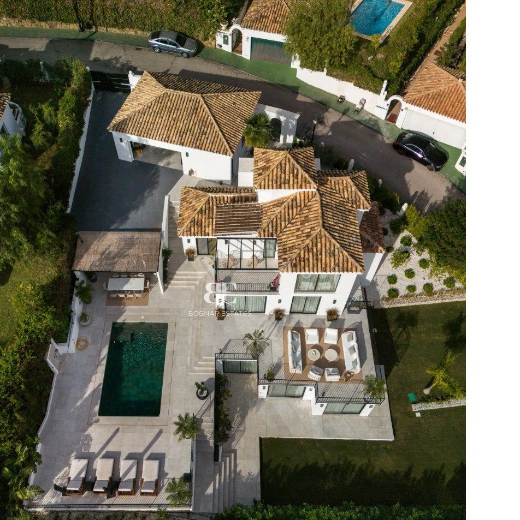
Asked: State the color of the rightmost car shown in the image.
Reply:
black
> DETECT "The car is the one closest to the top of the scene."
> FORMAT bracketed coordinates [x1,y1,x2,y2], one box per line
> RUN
[147,33,197,58]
